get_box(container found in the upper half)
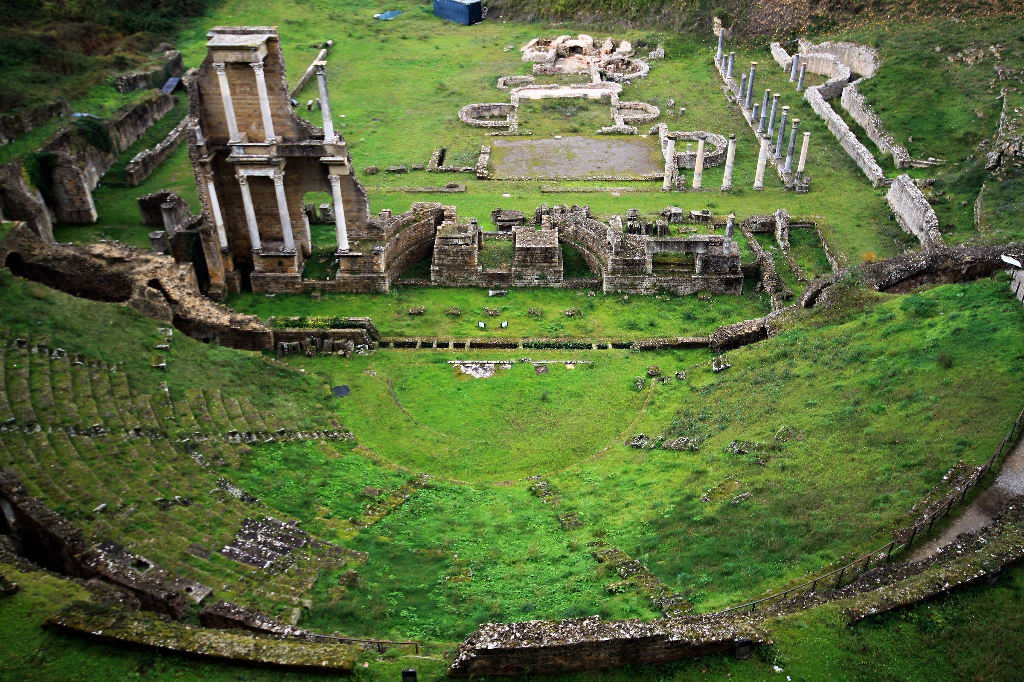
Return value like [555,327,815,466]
[429,0,482,25]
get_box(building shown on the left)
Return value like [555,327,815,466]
[181,19,387,292]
